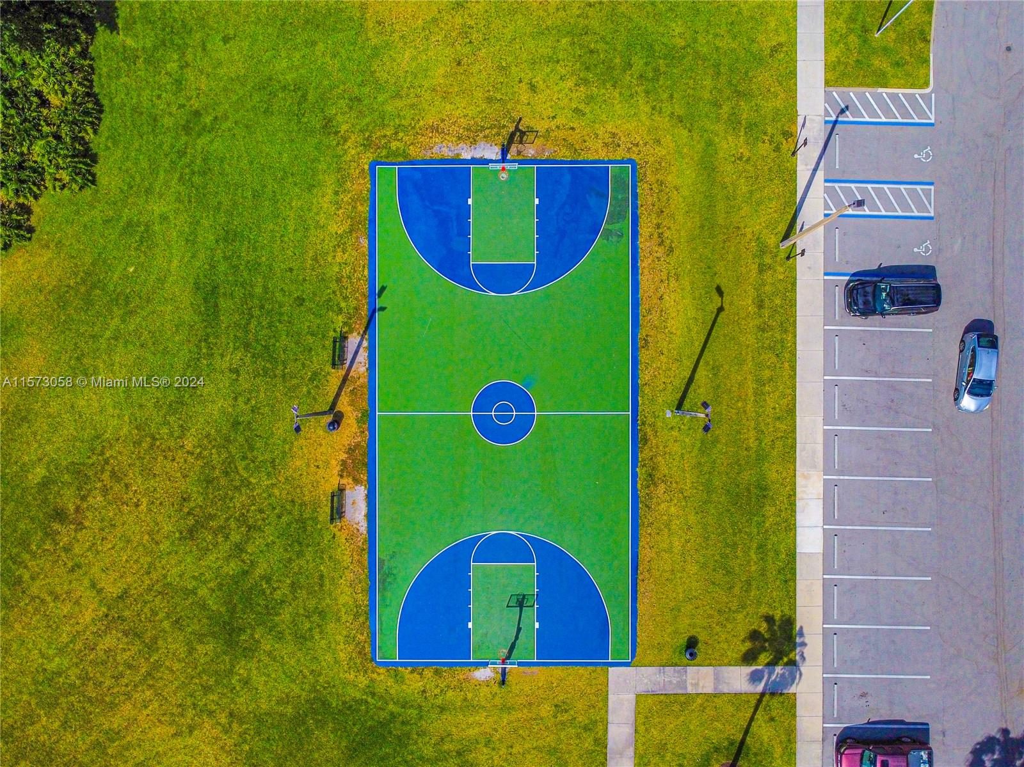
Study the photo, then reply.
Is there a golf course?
No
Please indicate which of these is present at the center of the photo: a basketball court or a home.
basketball court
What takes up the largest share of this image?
grass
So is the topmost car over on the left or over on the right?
right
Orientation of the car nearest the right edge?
vertically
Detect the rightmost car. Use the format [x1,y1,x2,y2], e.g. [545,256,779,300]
[955,332,999,412]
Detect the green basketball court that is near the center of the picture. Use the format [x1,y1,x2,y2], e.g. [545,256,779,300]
[367,157,640,667]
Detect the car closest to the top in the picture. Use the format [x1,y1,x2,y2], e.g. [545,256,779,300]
[843,278,939,319]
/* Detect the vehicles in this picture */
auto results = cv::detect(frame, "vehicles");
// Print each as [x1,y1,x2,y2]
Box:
[843,278,939,319]
[833,738,933,767]
[955,332,999,412]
